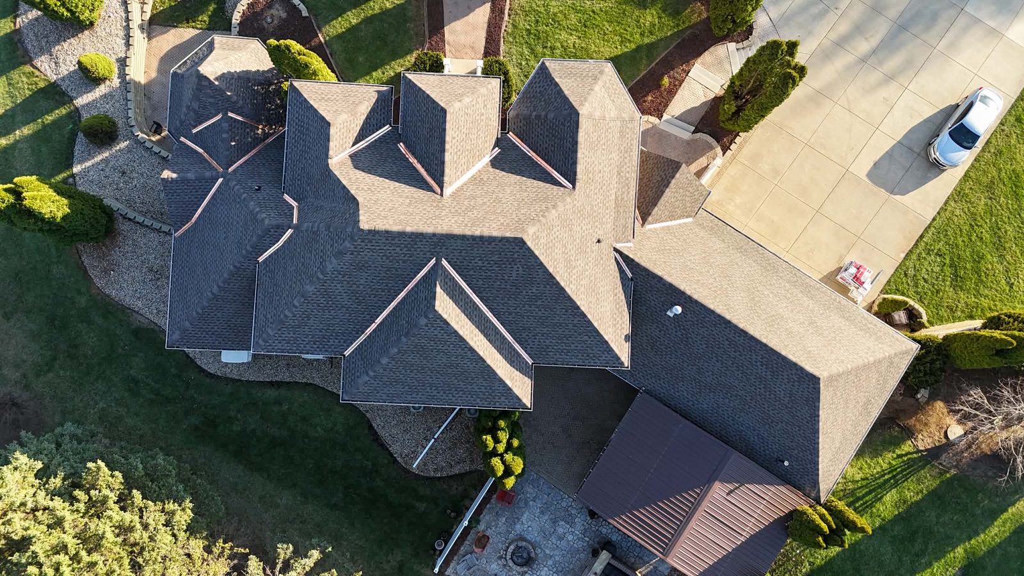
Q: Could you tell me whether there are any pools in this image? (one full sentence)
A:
No, no pool is visible in the scene.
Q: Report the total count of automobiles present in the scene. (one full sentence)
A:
I count just 1 automobile.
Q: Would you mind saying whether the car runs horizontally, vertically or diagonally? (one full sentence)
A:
Seen from above, the car lies diagonally.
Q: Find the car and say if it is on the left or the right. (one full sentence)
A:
You can find the car on the right side of the picture.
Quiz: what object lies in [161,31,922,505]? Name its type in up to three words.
house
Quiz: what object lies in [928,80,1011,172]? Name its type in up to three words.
car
